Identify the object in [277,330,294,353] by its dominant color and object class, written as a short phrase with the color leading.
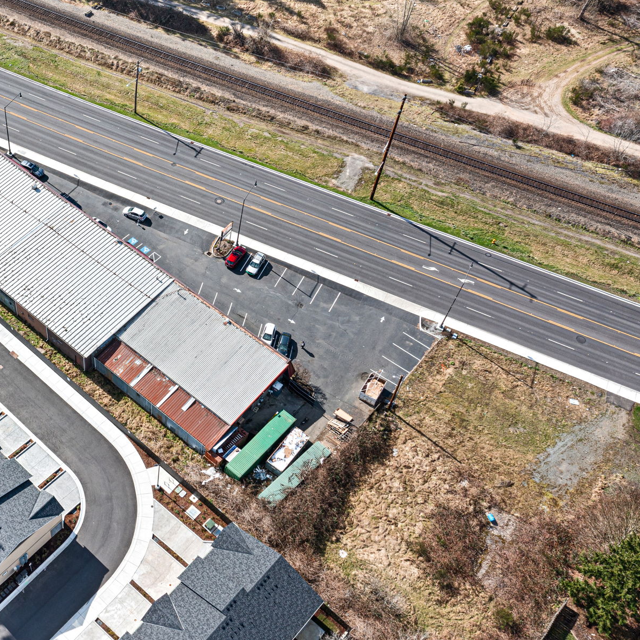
blue car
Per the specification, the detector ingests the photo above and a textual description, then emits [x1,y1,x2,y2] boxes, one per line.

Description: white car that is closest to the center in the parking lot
[262,320,278,342]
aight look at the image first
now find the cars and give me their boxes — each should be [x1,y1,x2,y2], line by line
[245,250,266,276]
[59,191,82,210]
[19,159,46,180]
[262,320,278,342]
[122,207,149,223]
[225,245,246,270]
[277,330,294,353]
